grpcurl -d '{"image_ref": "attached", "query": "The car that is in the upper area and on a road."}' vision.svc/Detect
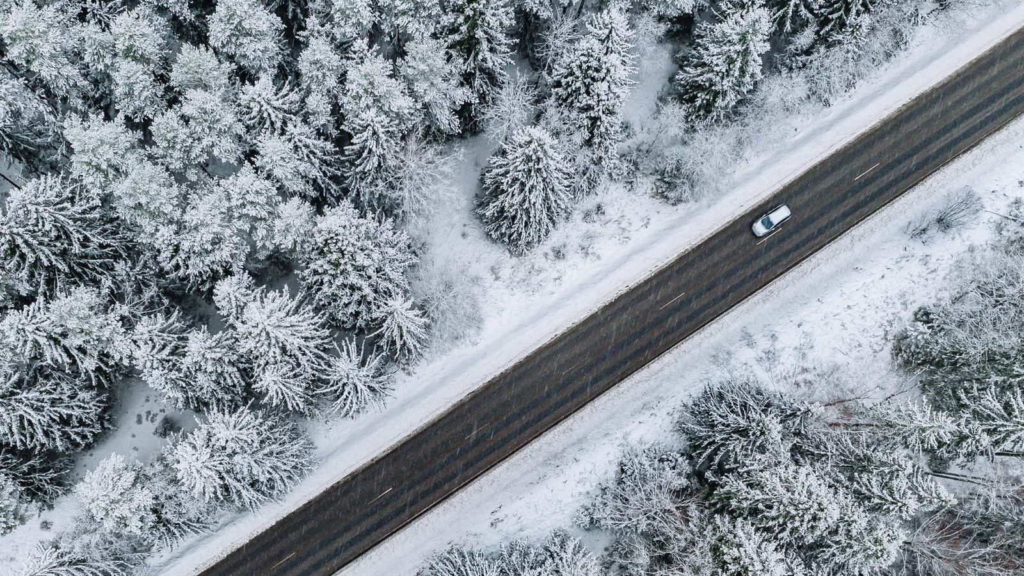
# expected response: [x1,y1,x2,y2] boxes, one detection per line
[751,200,799,237]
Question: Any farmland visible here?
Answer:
No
